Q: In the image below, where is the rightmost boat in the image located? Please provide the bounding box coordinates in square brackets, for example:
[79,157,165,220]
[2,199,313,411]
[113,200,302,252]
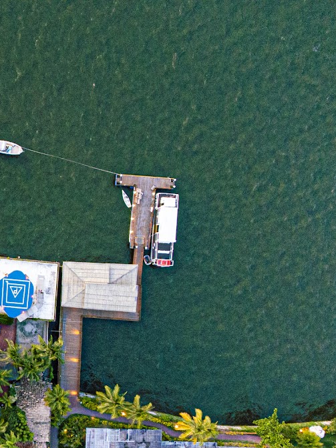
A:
[152,192,183,267]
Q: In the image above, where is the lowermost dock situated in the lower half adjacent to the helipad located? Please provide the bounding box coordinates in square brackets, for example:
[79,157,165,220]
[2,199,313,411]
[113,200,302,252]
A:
[59,259,143,397]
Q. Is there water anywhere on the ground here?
Yes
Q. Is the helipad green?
No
